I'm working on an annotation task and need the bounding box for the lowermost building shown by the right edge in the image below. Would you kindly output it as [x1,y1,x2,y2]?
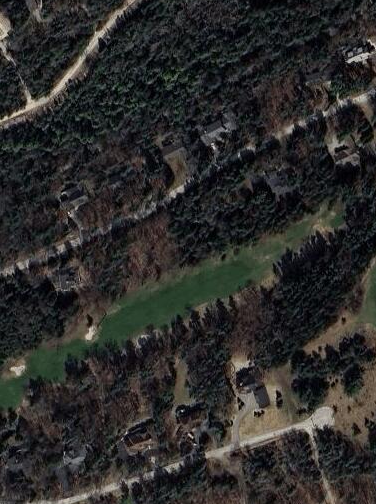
[333,147,361,168]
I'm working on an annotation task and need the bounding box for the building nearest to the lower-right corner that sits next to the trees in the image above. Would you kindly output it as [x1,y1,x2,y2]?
[234,370,272,407]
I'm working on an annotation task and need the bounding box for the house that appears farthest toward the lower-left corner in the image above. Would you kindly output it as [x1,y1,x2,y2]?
[61,443,89,470]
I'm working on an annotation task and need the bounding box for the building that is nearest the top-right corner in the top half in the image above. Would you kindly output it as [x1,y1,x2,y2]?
[346,40,376,60]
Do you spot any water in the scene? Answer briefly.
No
